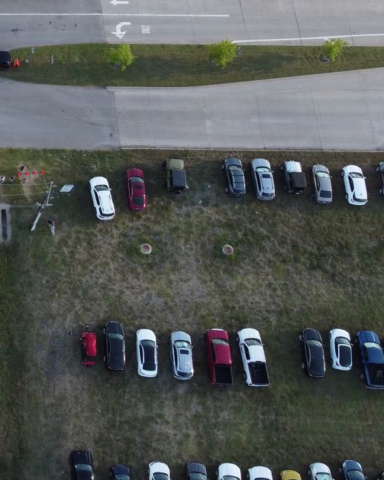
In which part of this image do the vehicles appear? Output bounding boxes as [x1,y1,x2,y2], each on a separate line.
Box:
[79,333,99,365]
[123,168,148,214]
[354,331,384,390]
[339,166,370,208]
[88,178,116,223]
[236,328,274,388]
[326,330,355,374]
[101,322,128,374]
[306,463,334,480]
[168,331,196,382]
[221,158,248,201]
[279,470,303,480]
[182,462,210,480]
[215,462,242,480]
[204,328,236,388]
[68,449,97,480]
[306,166,335,207]
[0,48,13,70]
[340,460,370,480]
[249,159,279,203]
[373,162,384,199]
[297,328,329,380]
[145,462,173,480]
[135,330,160,380]
[247,464,274,480]
[109,464,131,480]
